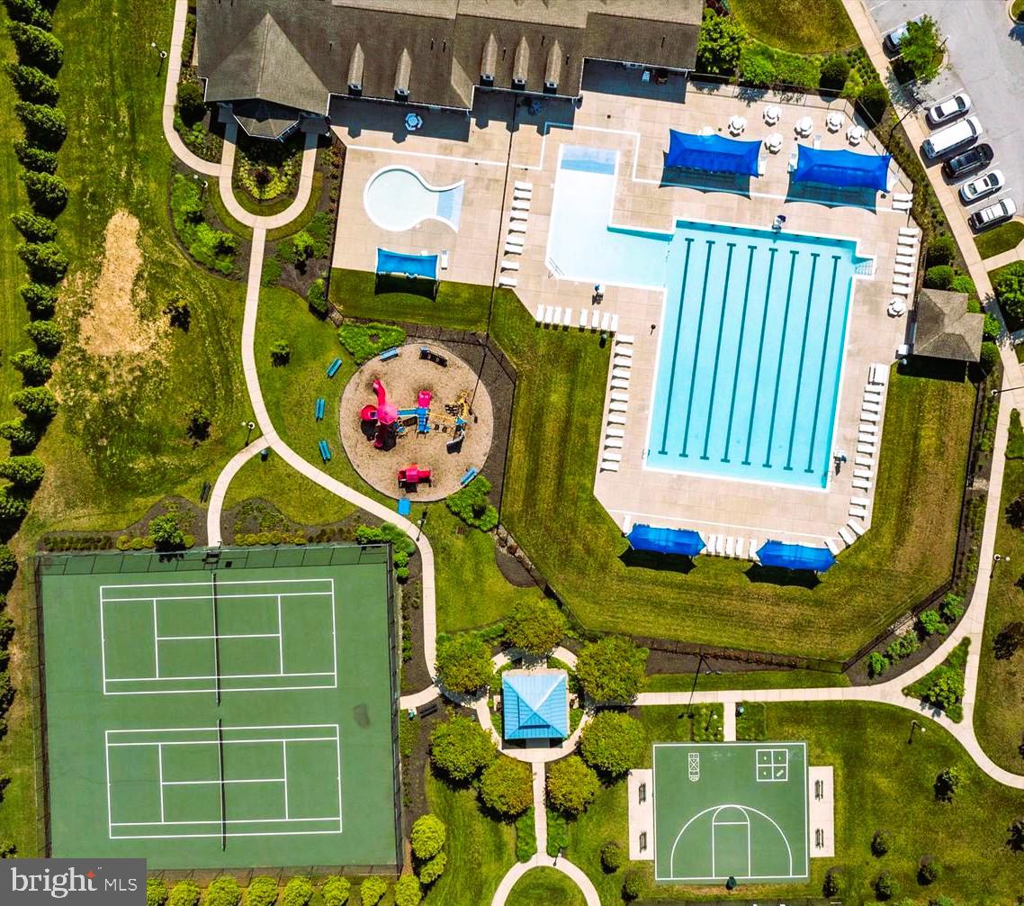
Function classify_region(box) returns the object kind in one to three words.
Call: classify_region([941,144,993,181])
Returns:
car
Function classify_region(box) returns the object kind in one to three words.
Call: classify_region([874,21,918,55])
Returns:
car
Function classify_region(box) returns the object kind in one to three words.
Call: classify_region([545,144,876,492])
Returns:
swimming pool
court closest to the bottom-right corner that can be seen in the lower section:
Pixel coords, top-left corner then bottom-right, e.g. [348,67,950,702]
[652,740,810,884]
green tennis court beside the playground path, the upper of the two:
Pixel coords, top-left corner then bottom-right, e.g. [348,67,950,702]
[38,544,395,711]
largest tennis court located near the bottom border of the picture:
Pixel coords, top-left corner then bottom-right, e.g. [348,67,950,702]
[45,704,398,871]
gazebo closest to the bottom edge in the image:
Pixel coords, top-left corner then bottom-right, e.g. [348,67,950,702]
[502,672,569,739]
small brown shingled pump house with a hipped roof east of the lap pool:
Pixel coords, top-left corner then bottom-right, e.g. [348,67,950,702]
[911,288,986,362]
